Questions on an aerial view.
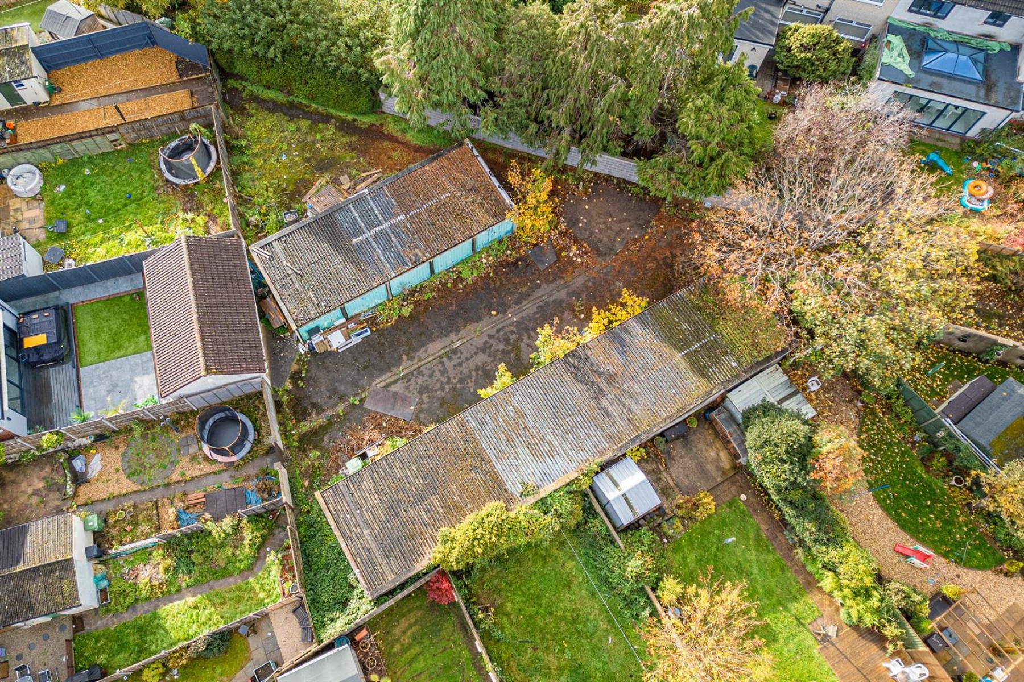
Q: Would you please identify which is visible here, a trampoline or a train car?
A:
trampoline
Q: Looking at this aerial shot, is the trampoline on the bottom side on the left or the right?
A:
left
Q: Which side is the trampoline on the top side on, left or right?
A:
left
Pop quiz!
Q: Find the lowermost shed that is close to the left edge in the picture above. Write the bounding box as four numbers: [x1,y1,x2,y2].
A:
[0,511,102,636]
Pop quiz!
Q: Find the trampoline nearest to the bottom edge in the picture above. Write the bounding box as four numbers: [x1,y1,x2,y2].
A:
[187,402,261,470]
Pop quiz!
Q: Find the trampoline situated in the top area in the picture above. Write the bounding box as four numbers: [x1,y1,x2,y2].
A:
[157,127,221,190]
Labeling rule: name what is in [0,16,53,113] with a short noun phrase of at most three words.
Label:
shed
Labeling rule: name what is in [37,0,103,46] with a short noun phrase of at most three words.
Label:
shed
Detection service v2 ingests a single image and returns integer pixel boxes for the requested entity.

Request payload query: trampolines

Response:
[157,127,221,190]
[187,402,261,470]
